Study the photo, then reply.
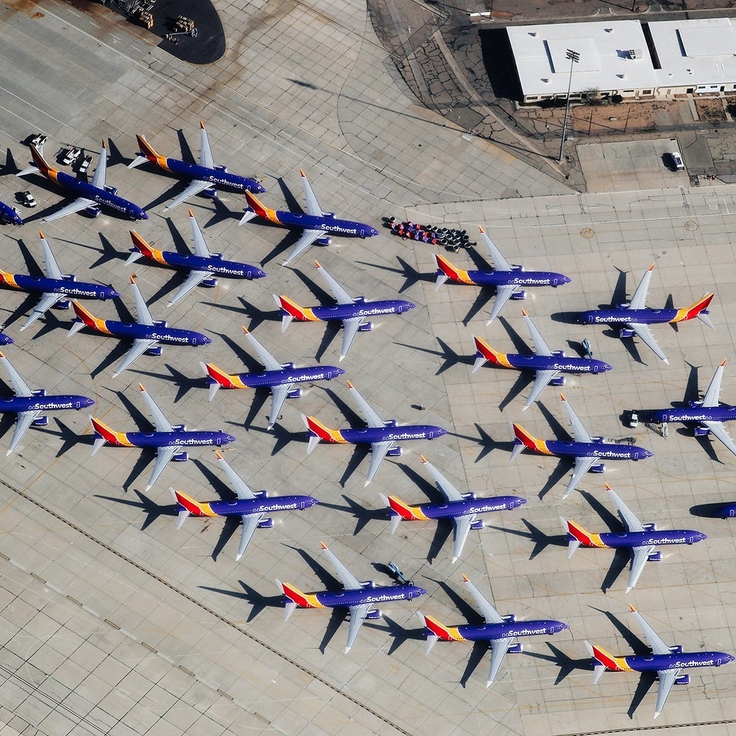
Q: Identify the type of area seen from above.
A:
airport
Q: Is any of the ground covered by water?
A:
No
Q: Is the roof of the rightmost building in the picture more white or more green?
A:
white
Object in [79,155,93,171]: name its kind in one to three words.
vehicle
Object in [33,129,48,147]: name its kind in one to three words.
vehicle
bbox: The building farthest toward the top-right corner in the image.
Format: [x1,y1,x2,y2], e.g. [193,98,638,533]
[640,17,736,98]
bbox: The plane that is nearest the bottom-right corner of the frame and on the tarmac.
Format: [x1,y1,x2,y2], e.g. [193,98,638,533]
[583,604,735,719]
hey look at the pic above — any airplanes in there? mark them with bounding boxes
[300,381,446,487]
[126,120,265,212]
[15,139,148,224]
[0,203,22,224]
[275,542,426,655]
[123,210,265,308]
[509,393,653,500]
[238,170,379,266]
[640,361,736,465]
[0,350,95,456]
[169,452,318,561]
[88,384,234,491]
[416,574,568,689]
[199,327,344,431]
[431,226,571,326]
[272,261,415,362]
[573,264,717,365]
[379,456,527,564]
[0,332,13,345]
[0,231,119,331]
[470,308,611,410]
[583,604,735,719]
[558,483,707,593]
[65,275,211,377]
